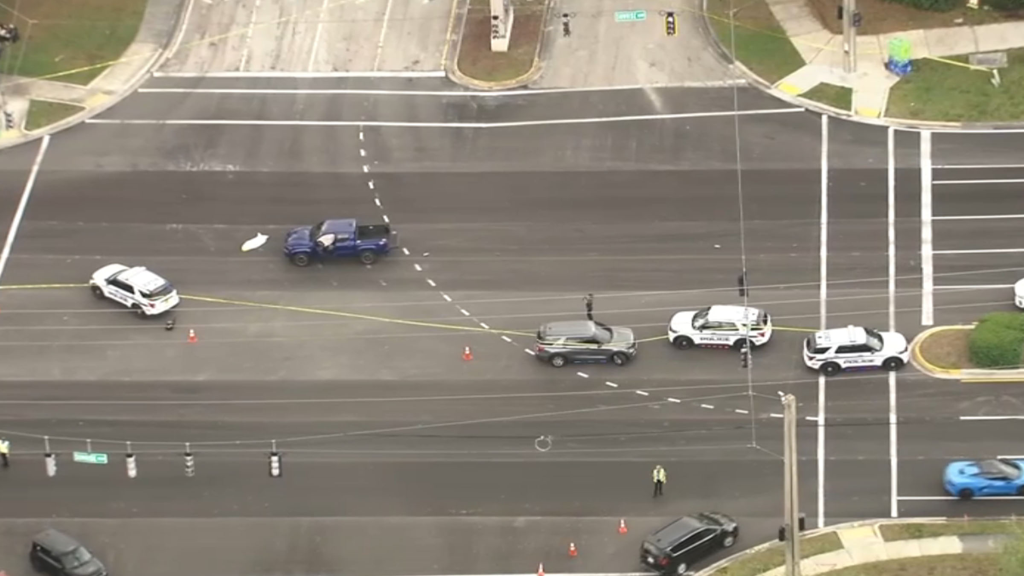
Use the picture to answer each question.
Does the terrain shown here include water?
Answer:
No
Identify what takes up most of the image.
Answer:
paved ground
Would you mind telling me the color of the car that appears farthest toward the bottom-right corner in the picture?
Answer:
blue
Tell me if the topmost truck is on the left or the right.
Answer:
left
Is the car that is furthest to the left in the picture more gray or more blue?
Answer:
gray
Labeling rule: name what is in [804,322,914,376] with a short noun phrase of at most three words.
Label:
car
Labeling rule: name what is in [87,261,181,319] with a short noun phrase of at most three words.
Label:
car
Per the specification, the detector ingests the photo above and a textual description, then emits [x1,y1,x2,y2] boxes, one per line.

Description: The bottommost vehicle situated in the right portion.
[640,511,739,575]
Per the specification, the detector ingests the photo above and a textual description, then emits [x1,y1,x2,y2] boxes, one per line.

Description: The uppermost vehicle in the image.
[279,219,400,267]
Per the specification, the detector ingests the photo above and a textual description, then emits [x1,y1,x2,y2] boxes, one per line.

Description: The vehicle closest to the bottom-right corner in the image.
[940,458,1024,499]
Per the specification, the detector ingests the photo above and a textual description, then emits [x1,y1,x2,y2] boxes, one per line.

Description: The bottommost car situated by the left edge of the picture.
[31,527,115,576]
